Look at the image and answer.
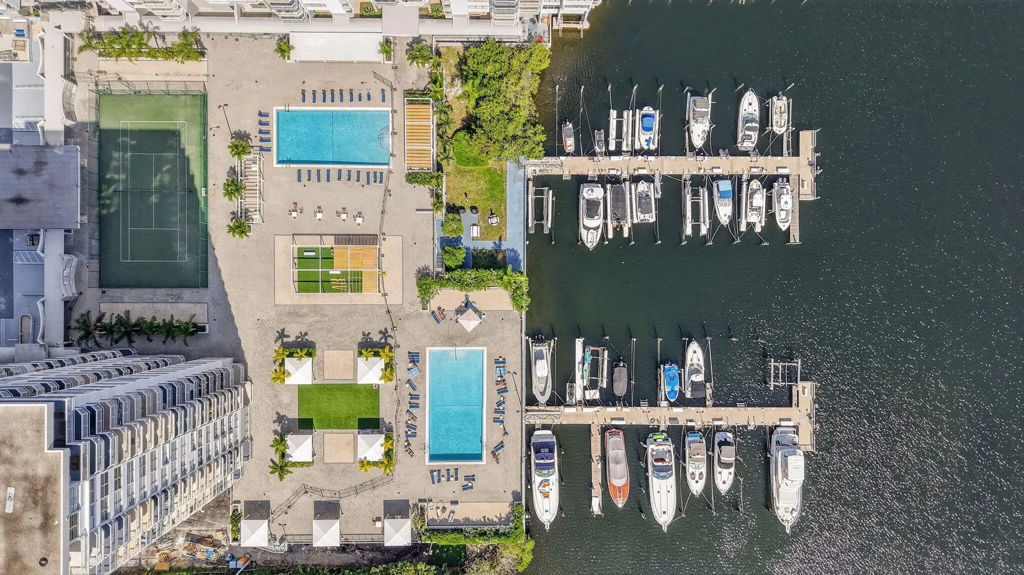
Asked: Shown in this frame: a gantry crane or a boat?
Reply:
boat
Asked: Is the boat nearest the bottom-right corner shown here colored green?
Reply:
No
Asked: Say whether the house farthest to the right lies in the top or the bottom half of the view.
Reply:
top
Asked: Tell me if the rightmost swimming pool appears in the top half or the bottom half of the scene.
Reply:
bottom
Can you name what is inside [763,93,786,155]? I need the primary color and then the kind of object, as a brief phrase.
white boat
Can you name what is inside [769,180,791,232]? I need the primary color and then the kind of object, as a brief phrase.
white boat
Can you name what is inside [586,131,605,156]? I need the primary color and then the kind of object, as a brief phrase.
gray boat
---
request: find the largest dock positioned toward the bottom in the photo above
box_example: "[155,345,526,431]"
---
[525,382,818,451]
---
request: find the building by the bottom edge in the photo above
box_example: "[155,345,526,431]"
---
[0,347,252,575]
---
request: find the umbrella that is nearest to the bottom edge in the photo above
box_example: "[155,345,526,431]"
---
[453,304,486,336]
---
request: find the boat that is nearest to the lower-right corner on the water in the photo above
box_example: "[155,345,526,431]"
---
[768,425,806,539]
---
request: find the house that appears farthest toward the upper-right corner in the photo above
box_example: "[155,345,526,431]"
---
[552,0,596,39]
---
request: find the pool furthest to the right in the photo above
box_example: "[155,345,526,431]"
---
[426,345,487,465]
